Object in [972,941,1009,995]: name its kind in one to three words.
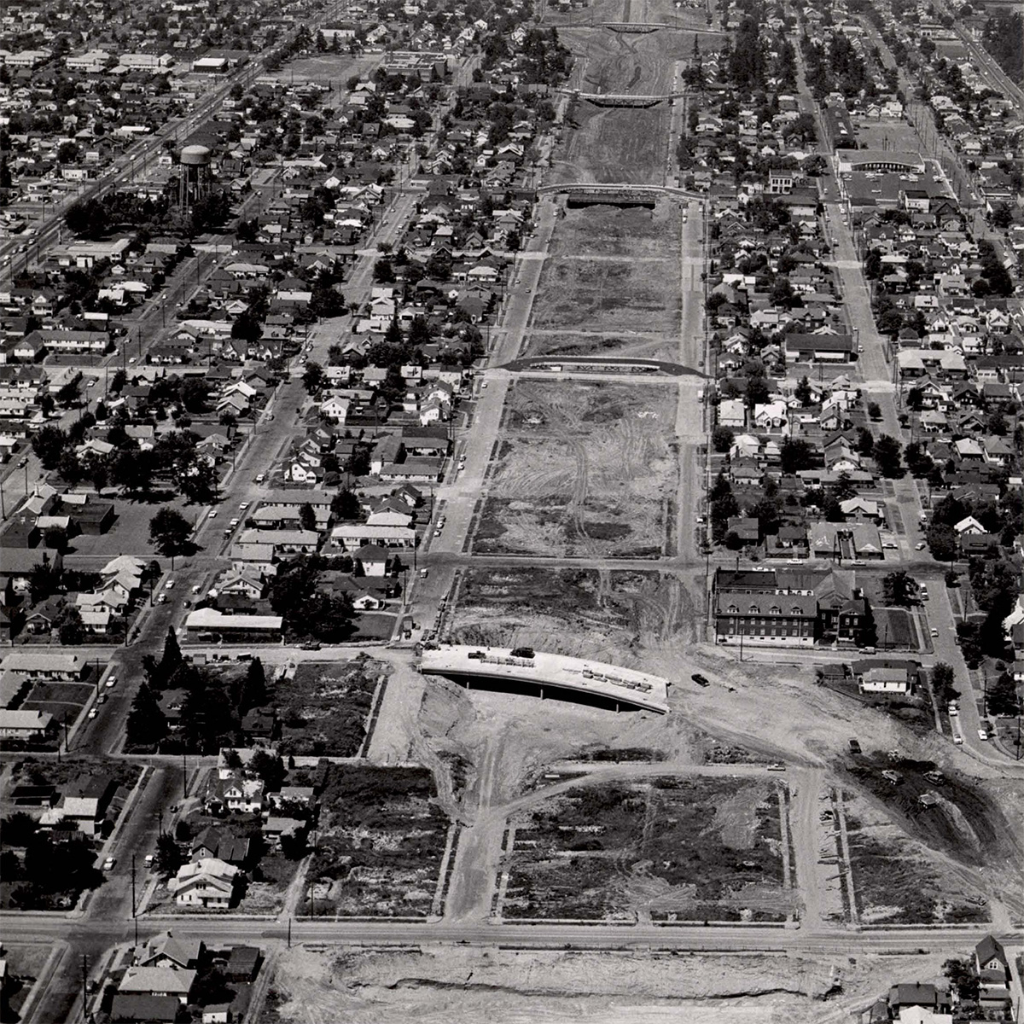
house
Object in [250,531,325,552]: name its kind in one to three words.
building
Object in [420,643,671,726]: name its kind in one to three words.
overpass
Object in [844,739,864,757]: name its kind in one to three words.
vehicle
